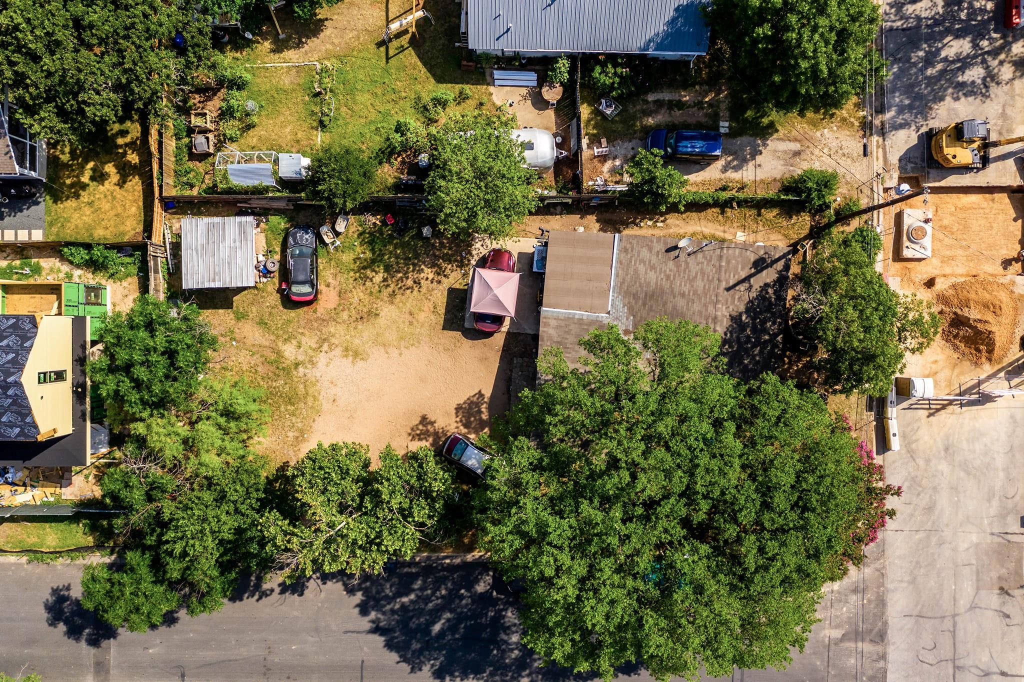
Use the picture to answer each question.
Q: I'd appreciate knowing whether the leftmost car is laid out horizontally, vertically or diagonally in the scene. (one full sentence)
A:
The leftmost car runs vertically in the image.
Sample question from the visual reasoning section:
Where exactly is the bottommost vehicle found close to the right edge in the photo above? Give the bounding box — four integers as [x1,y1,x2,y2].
[923,116,1024,171]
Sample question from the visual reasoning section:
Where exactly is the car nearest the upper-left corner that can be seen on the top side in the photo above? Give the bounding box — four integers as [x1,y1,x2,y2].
[279,222,319,305]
